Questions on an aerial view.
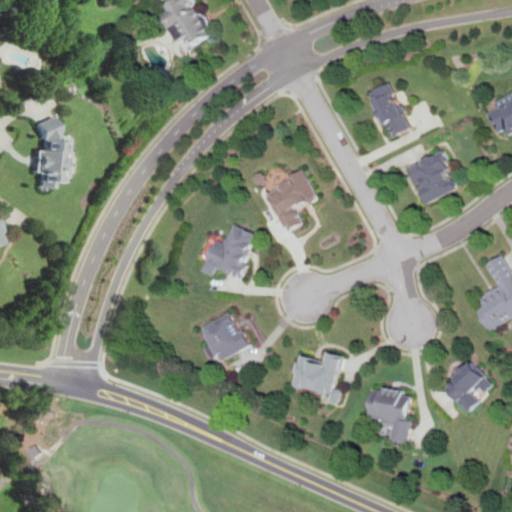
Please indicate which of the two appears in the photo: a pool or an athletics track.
pool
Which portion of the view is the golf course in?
bottom left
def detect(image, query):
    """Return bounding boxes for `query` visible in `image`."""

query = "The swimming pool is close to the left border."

[0,43,42,70]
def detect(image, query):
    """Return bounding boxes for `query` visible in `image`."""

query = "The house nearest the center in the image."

[200,226,254,278]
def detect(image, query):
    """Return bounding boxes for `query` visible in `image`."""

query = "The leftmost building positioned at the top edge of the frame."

[158,0,210,56]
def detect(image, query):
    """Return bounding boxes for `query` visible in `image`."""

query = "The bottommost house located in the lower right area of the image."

[366,388,410,444]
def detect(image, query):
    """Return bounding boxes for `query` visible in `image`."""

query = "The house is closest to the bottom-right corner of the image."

[445,361,494,412]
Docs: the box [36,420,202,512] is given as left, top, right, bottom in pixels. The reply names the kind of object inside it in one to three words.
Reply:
golf course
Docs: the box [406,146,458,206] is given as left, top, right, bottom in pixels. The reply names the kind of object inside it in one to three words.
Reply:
house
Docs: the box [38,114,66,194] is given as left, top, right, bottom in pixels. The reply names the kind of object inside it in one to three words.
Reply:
house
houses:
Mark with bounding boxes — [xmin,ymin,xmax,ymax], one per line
[203,312,250,360]
[477,256,512,330]
[266,169,318,232]
[158,0,210,56]
[406,146,458,206]
[366,388,410,444]
[200,226,254,278]
[445,361,494,412]
[293,352,343,404]
[38,114,66,194]
[485,96,512,140]
[368,82,410,138]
